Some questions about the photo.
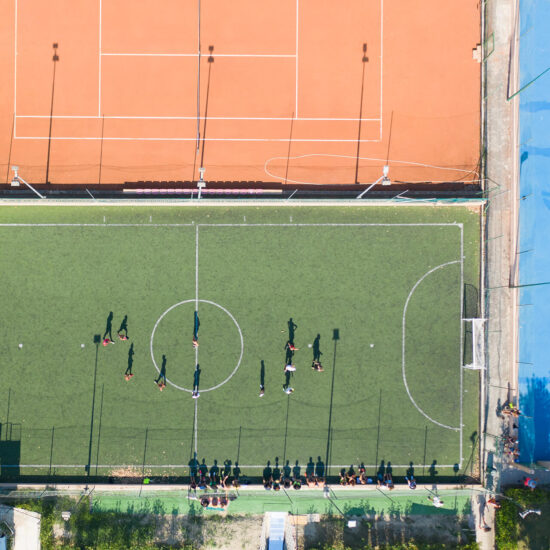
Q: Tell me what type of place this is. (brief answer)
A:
sports ground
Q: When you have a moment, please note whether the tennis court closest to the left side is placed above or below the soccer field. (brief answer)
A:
above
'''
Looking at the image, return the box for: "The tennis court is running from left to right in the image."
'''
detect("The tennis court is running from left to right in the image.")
[0,0,480,189]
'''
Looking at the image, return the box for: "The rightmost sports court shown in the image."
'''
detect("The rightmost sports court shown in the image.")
[517,0,550,462]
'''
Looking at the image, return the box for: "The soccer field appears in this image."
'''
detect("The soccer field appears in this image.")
[0,205,480,483]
